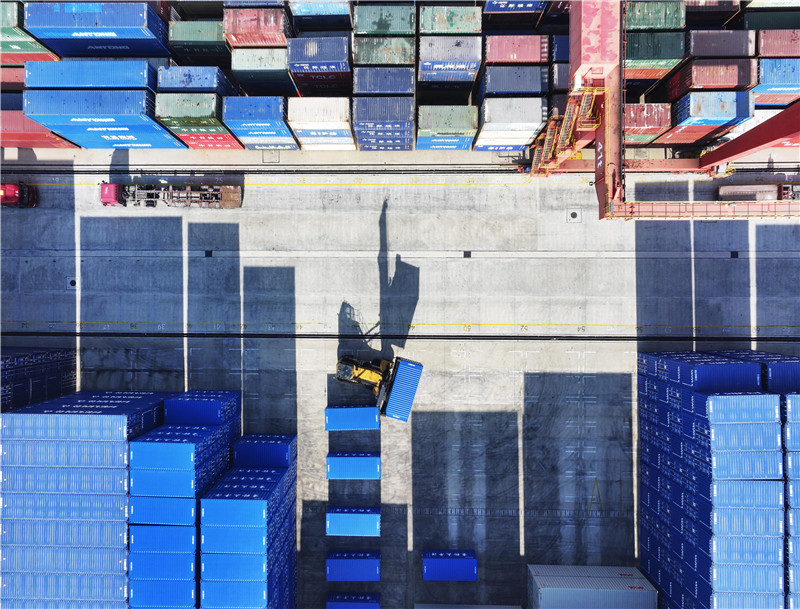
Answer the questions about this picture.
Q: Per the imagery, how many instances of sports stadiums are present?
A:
zero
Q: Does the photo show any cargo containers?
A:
Yes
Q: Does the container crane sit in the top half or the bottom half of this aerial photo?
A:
top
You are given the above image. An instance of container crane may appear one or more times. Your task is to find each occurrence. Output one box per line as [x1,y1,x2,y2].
[498,0,800,222]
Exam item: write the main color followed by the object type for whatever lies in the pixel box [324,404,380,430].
blue shipping container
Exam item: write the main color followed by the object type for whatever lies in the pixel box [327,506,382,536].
blue shipping container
